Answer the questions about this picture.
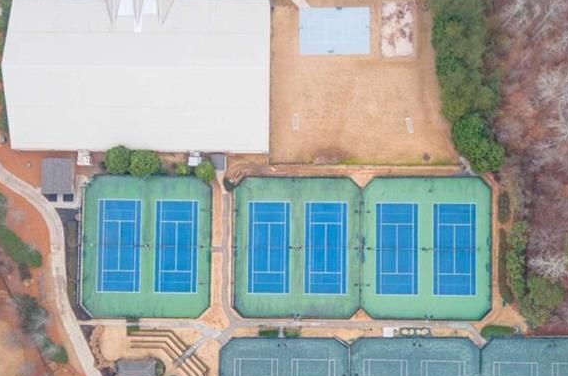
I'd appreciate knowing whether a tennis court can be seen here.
Yes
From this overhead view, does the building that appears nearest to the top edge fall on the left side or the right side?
left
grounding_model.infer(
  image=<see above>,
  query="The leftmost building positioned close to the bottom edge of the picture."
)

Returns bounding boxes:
[117,357,159,376]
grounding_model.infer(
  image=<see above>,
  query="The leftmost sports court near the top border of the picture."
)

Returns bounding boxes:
[299,7,370,55]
